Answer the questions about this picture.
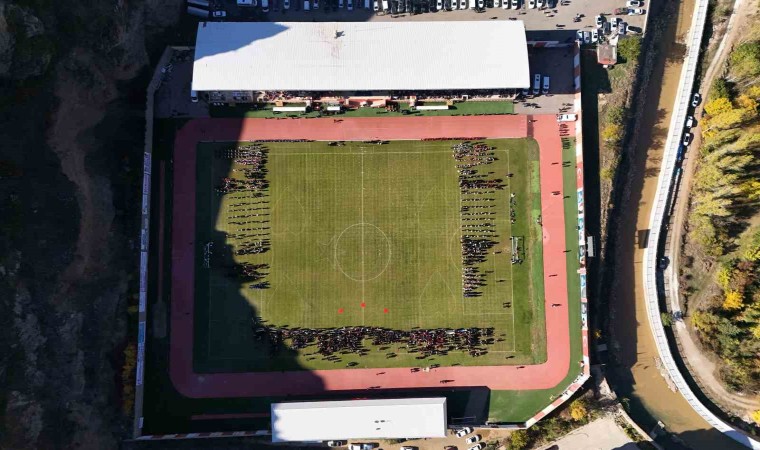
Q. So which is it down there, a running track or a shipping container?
running track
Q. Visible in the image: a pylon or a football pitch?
football pitch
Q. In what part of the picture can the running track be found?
center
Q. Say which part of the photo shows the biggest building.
top right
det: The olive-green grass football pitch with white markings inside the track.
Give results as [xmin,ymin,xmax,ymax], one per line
[193,138,546,373]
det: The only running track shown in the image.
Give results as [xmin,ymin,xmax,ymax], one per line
[169,114,569,397]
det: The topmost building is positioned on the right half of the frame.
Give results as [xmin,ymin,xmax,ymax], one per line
[597,42,622,65]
